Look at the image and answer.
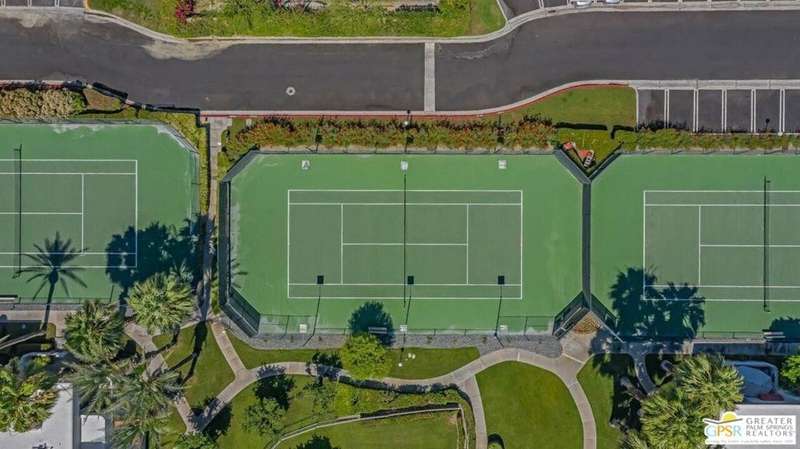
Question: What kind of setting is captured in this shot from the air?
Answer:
sports ground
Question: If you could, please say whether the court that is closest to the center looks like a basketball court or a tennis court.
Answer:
tennis court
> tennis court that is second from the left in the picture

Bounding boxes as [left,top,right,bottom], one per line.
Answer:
[229,154,583,334]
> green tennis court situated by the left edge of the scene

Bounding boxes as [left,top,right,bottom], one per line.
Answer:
[0,123,198,302]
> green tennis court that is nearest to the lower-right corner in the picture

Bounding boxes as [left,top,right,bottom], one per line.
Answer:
[590,155,800,337]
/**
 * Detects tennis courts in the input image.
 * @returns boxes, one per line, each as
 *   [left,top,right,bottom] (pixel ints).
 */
[0,123,198,302]
[229,154,583,334]
[590,155,800,337]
